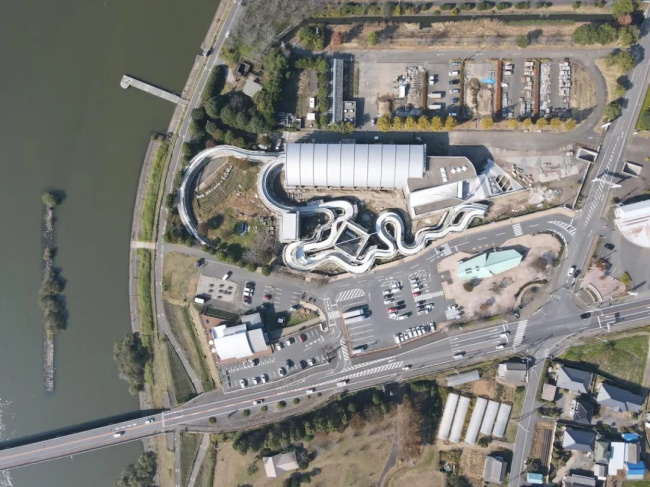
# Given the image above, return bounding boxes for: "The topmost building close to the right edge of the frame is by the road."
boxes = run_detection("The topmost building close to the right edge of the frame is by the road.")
[607,196,650,247]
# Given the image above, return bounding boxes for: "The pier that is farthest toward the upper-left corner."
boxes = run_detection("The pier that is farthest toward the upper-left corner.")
[121,75,187,105]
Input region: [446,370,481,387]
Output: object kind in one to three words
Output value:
greenhouse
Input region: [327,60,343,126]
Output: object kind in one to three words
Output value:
shed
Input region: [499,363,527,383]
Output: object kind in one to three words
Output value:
house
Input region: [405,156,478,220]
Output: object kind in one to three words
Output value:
building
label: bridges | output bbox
[0,411,163,469]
